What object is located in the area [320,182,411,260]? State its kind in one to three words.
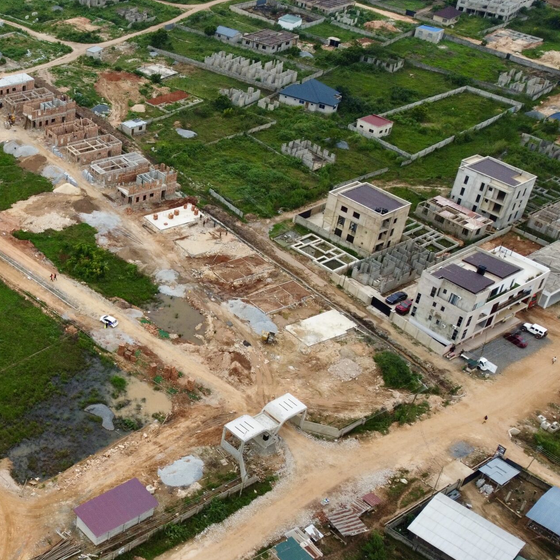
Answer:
building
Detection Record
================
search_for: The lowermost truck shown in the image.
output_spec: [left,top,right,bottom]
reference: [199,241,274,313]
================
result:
[471,353,508,374]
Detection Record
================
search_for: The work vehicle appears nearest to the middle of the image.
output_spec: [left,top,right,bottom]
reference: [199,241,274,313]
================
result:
[256,327,284,349]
